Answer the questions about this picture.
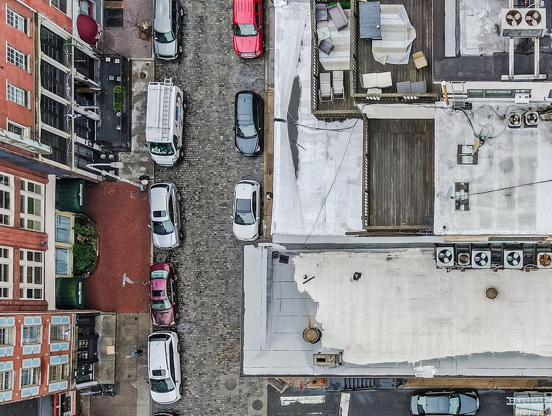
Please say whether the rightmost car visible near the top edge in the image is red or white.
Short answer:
red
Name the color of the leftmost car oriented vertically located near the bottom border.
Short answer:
white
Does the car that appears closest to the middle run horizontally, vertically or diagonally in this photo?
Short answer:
vertically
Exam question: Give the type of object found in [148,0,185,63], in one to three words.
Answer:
car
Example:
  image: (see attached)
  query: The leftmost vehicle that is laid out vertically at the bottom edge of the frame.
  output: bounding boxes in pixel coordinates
[145,329,183,404]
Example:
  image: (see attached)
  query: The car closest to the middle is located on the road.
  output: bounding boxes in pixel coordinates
[229,175,262,241]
